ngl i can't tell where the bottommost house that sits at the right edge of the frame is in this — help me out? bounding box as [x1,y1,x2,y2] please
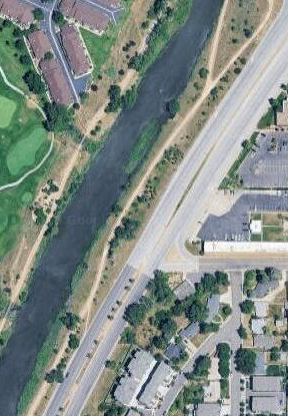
[252,394,284,412]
